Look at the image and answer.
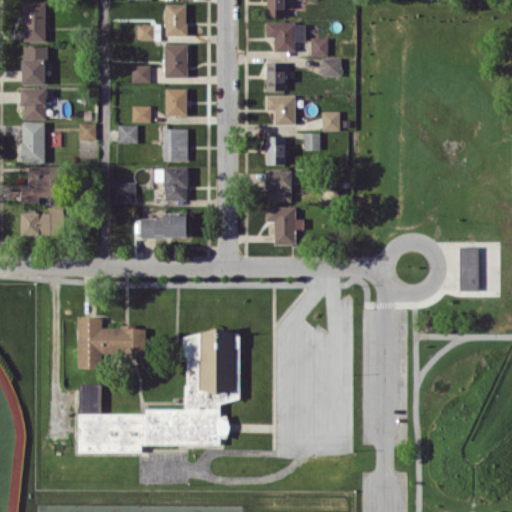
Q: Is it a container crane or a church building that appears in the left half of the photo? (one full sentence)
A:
Visible in the left half of the photo is a church building.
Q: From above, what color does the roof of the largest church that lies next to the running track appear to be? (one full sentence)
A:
The roof of the largest church that lies next to the running track is white.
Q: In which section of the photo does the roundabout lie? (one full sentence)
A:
The roundabout is located in the right region of the scene.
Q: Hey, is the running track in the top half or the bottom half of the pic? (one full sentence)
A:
Seen from above, the running track lies in the bottom half of the view.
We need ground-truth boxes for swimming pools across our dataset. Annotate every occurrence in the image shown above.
[330,21,344,34]
[304,103,320,118]
[62,101,72,118]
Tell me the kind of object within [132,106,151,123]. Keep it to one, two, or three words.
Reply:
building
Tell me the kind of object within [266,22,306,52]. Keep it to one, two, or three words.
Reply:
house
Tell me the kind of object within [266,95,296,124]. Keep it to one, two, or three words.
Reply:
house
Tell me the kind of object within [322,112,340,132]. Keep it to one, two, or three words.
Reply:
building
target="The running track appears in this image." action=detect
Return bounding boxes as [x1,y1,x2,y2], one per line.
[0,364,26,512]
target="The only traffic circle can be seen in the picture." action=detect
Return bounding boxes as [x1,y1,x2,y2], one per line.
[378,234,446,302]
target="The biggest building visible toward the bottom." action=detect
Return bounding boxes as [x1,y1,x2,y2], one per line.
[77,329,240,455]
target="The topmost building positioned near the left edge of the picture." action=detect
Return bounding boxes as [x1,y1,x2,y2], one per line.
[22,0,46,42]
